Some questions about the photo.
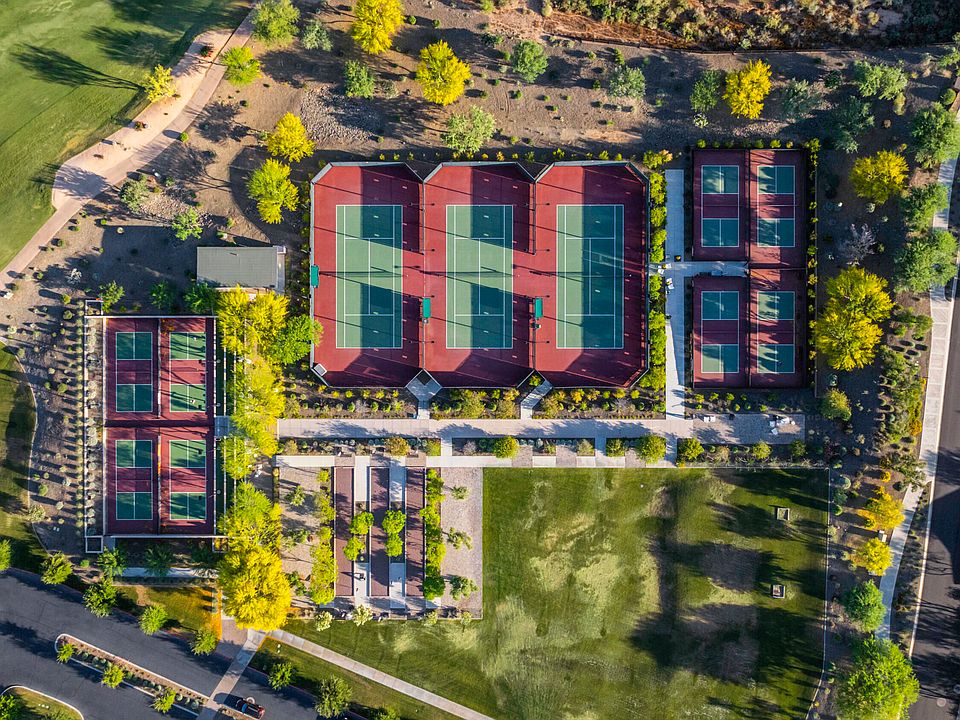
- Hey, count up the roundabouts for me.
none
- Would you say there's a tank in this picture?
No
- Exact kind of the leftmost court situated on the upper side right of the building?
tennis court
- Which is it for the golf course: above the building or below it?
above it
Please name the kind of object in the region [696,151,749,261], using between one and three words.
sports court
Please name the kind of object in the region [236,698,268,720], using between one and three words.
car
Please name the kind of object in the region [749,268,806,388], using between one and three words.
sports court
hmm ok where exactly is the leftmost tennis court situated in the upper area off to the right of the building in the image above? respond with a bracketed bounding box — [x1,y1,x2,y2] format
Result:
[314,167,425,387]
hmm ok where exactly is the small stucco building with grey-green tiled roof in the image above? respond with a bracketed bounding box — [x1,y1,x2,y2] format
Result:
[196,246,286,291]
